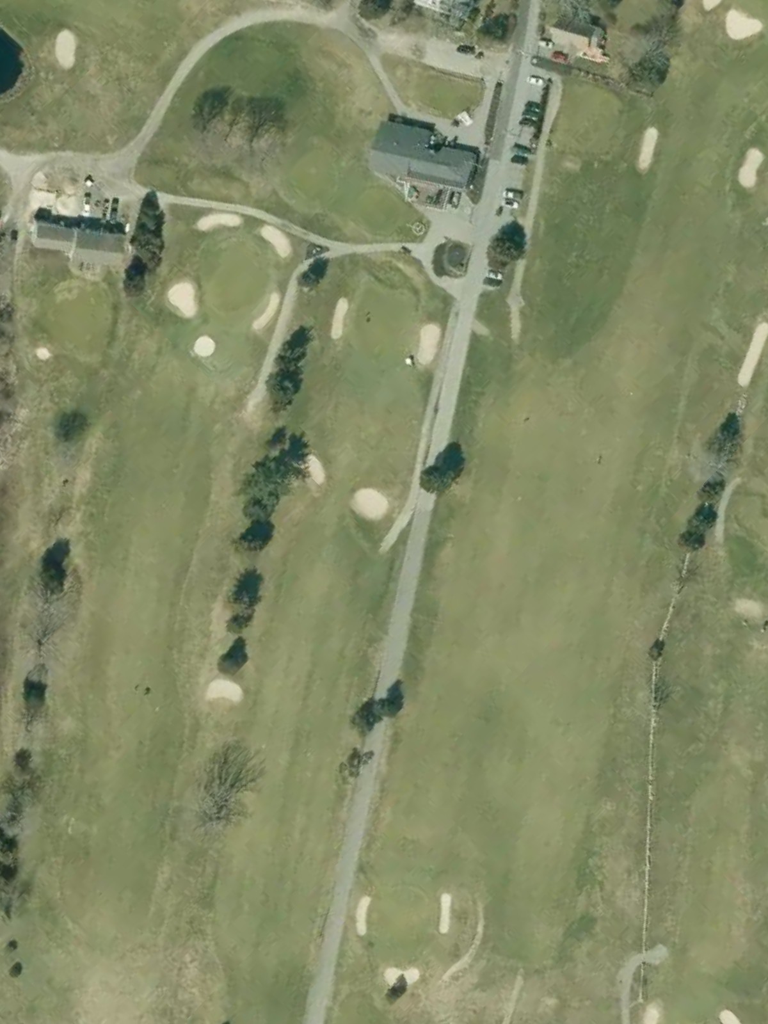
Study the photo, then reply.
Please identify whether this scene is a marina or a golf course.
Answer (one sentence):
The picture captures a golf course.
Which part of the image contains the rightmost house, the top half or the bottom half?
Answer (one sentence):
The rightmost house is in the top half of the image.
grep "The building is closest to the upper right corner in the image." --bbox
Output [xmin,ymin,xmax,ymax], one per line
[549,14,611,64]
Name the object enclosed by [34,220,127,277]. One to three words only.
shed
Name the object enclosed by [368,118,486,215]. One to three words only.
building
